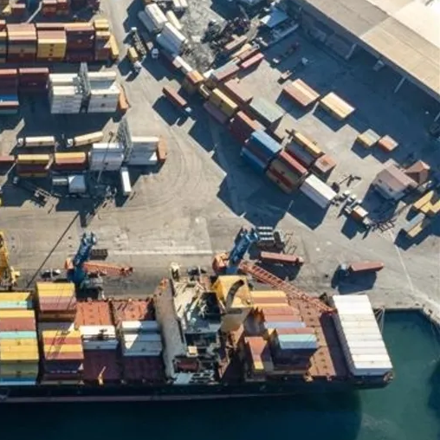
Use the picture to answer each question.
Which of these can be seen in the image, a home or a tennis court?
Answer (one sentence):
There is a home in the scene.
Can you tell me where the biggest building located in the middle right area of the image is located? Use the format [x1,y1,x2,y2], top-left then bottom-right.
[375,161,422,198]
